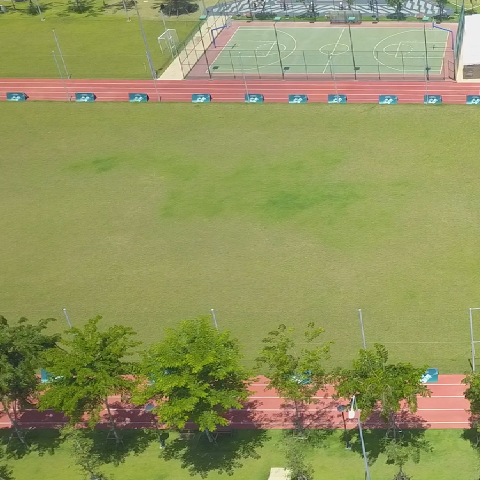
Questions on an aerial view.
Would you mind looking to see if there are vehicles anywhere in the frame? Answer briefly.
No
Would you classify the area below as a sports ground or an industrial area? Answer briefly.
sports ground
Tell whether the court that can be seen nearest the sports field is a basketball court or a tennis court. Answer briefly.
basketball court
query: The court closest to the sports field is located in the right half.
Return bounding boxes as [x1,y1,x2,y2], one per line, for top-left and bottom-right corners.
[184,20,457,80]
